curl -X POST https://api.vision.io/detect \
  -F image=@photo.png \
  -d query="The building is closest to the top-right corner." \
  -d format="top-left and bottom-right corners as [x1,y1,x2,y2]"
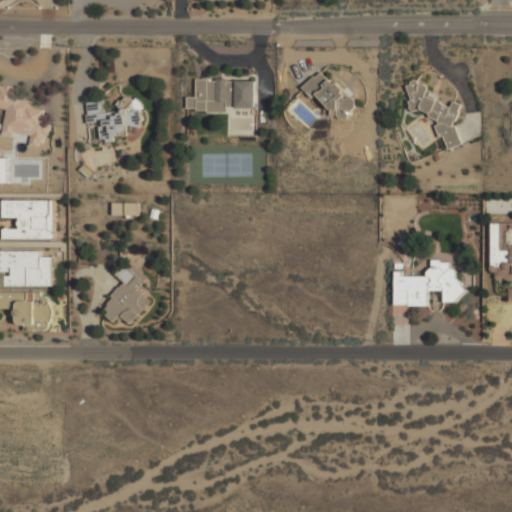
[405,80,462,148]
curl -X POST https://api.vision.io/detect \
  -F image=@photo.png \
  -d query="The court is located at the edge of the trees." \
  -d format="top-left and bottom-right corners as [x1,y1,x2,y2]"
[189,146,266,186]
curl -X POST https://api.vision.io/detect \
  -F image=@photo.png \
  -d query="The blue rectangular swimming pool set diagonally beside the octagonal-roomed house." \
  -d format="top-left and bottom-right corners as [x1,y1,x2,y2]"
[286,98,320,129]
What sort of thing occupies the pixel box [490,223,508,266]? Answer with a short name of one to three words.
building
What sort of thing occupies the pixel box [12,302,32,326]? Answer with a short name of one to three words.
house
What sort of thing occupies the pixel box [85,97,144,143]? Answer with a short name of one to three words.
house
